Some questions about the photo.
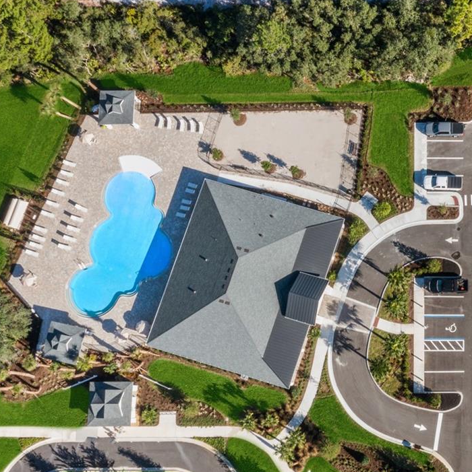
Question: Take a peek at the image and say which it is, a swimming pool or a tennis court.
swimming pool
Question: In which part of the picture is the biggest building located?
center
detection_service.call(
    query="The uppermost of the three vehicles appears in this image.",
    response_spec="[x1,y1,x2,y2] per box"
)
[425,120,466,137]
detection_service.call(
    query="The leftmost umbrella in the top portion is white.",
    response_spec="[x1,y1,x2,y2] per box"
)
[79,130,98,146]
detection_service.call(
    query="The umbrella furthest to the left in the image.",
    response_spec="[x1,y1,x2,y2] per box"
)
[22,271,41,290]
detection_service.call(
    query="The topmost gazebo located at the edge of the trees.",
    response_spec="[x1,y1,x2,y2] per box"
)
[97,90,142,130]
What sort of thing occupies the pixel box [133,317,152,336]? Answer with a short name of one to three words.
umbrella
